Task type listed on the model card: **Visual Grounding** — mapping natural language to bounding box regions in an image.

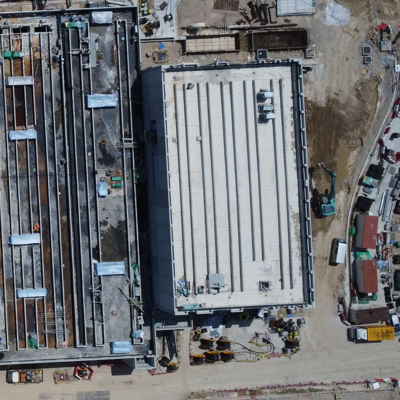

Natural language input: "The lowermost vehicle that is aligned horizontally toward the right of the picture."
[347,326,398,343]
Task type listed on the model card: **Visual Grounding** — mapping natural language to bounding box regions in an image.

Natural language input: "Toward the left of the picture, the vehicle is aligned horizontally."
[7,369,42,386]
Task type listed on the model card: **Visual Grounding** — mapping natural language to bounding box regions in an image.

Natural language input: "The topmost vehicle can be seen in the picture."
[315,168,339,222]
